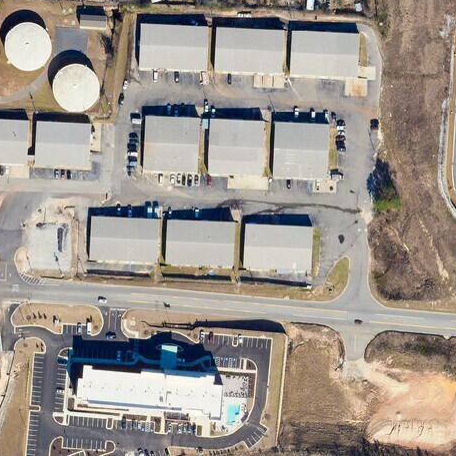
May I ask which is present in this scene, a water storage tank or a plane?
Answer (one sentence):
It is a water storage tank that can be seen here.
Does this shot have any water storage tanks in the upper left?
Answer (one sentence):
Yes, a water storage tank is visible in the upper left.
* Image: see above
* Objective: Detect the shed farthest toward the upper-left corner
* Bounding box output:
[81,14,107,29]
